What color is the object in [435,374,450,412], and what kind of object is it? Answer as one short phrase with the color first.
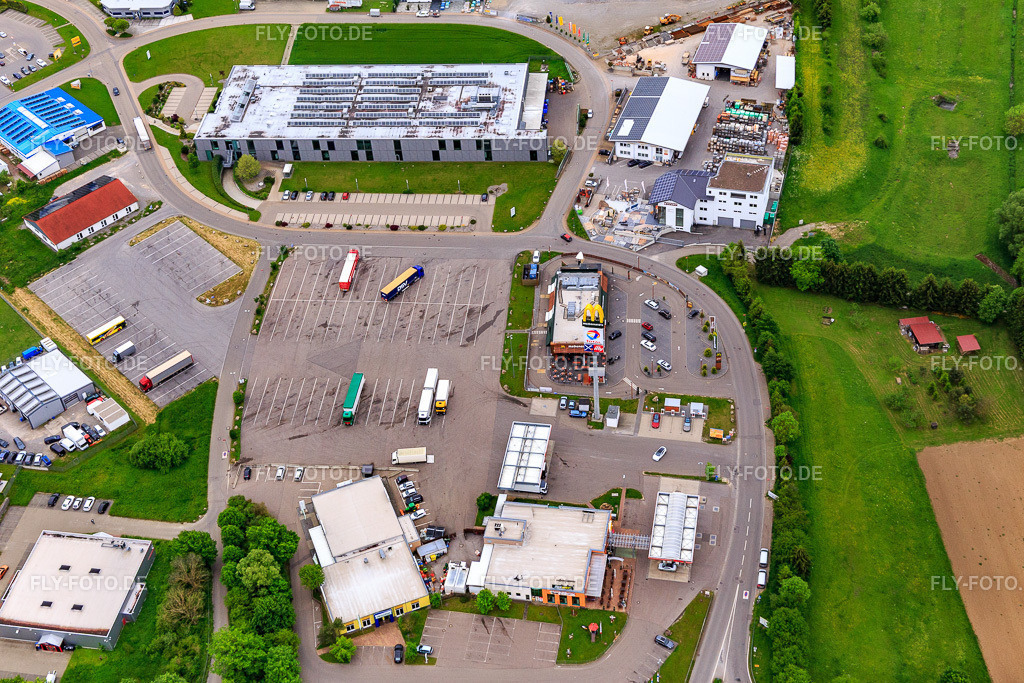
white vehicle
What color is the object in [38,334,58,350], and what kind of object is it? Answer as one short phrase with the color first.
white camper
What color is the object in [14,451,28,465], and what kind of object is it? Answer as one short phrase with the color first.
white car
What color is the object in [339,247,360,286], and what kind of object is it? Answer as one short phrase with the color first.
white truck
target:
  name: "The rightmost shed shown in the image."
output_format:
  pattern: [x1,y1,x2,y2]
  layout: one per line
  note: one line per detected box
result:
[957,334,980,358]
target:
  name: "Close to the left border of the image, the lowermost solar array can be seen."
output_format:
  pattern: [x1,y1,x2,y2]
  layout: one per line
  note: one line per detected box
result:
[33,177,112,216]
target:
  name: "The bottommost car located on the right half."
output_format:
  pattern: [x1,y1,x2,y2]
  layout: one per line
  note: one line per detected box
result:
[654,635,674,649]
